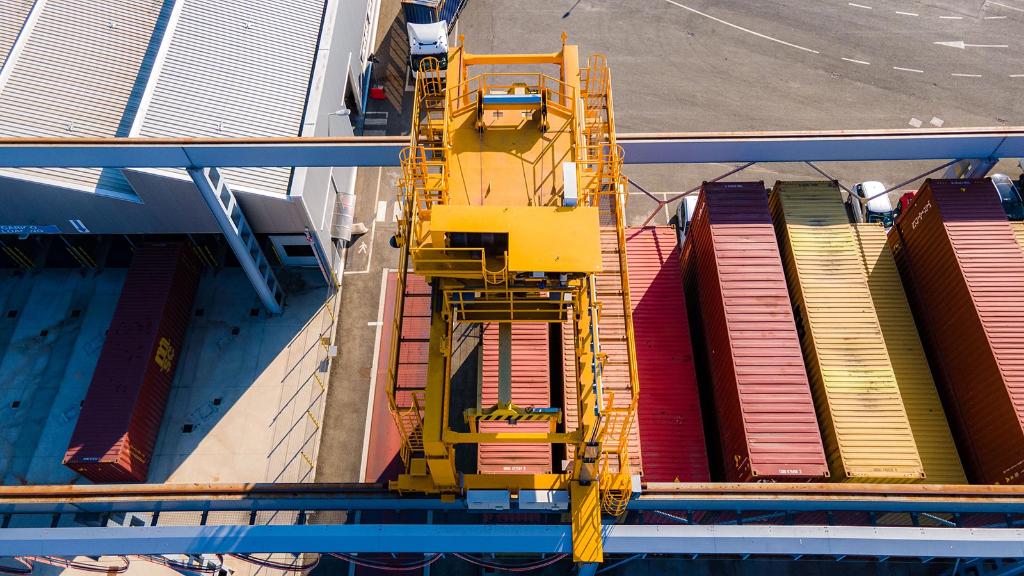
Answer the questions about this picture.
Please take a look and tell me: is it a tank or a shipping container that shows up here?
shipping container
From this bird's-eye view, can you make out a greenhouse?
No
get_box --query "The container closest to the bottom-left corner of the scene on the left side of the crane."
[64,241,206,479]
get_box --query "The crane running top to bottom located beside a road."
[380,31,643,562]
